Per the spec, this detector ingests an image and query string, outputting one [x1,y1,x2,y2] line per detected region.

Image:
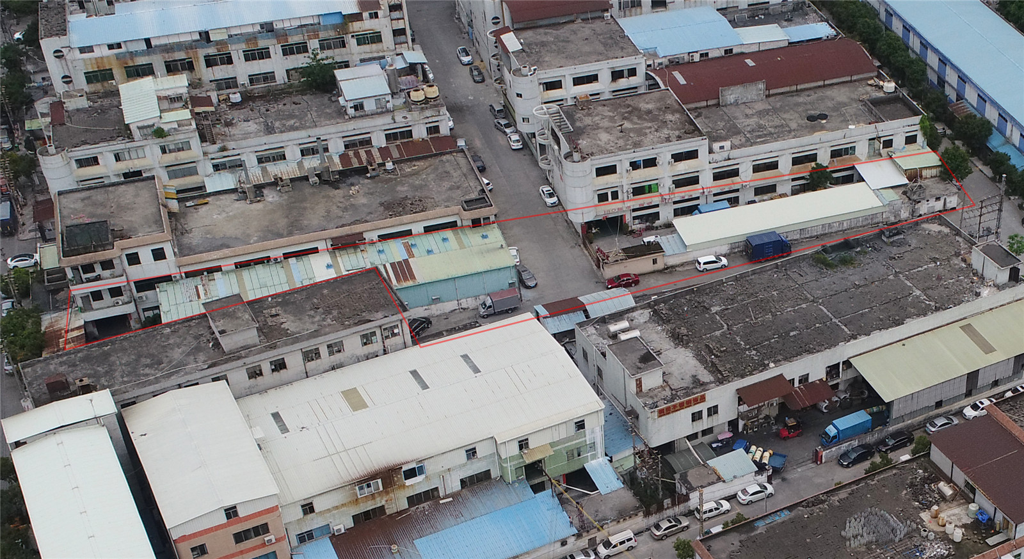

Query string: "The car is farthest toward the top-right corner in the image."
[931,119,949,134]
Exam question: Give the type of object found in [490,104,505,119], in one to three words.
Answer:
car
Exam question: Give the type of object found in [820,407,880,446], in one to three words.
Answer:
truck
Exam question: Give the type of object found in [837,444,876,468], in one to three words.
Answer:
car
